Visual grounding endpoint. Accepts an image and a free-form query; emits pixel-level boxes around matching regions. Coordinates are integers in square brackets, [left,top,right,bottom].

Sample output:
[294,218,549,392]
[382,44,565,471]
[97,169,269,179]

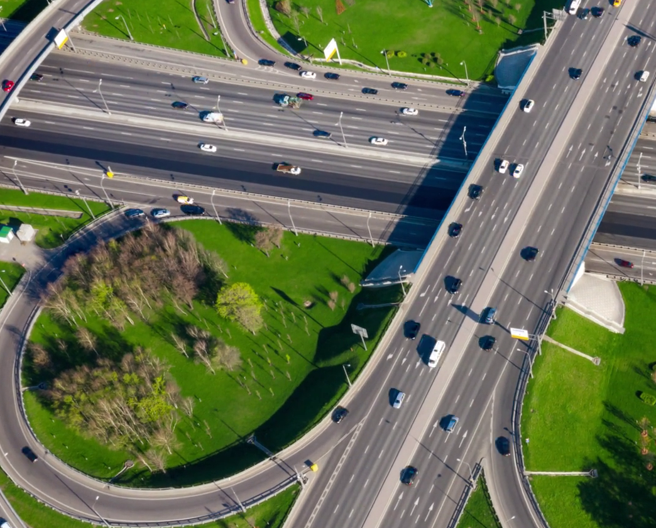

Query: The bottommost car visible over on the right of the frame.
[403,467,417,486]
